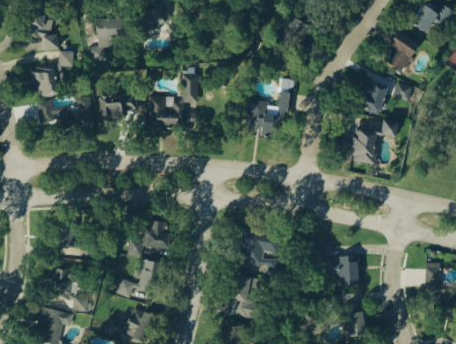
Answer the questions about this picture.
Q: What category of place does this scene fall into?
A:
residential area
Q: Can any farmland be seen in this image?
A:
No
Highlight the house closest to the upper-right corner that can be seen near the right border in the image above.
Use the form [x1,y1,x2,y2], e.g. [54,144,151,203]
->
[413,4,454,34]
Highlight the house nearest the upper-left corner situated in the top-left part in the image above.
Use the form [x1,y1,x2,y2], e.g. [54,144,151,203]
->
[32,16,58,50]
